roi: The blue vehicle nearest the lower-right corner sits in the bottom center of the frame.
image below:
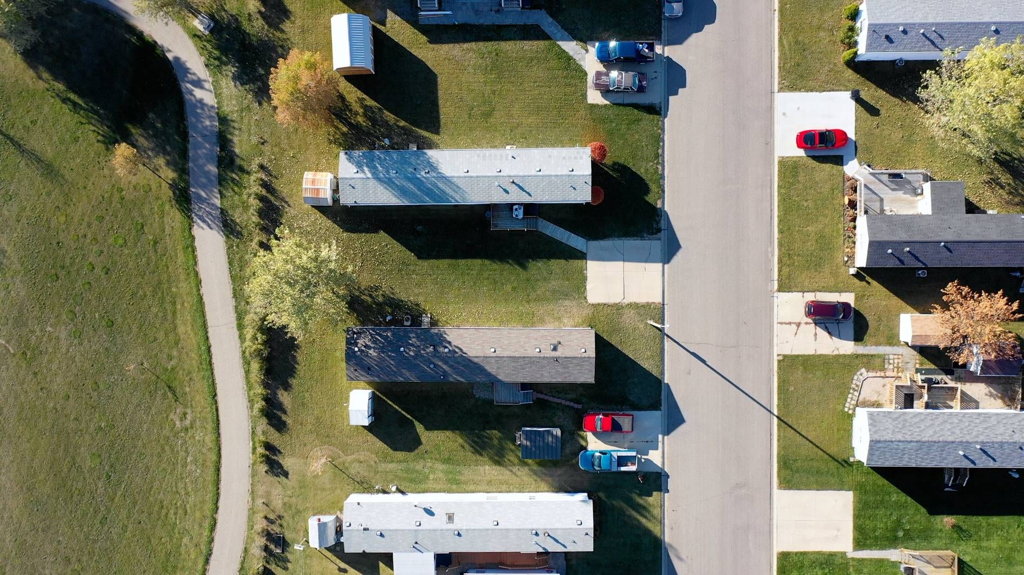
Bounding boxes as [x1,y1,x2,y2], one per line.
[578,449,637,475]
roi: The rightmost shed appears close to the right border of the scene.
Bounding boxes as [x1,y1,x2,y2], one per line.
[981,349,1024,377]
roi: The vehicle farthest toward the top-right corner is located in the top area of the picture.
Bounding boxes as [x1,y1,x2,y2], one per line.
[795,127,847,150]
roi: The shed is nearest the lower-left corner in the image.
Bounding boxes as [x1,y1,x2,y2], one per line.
[309,518,338,553]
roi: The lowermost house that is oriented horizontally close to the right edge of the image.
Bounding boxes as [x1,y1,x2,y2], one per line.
[854,409,1024,467]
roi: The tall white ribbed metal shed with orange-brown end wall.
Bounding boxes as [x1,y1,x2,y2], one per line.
[332,12,373,75]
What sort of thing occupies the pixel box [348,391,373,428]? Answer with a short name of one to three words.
shed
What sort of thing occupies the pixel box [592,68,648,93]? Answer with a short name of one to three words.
car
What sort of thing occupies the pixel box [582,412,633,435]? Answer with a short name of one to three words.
truck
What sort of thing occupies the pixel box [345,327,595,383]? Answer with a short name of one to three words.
house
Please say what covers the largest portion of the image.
paved ground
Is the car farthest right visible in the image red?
Yes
